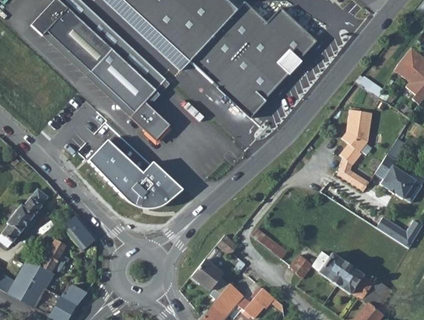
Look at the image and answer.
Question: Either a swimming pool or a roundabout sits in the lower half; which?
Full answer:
Visible in the lower half is a roundabout.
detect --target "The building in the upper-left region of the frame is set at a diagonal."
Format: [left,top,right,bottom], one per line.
[30,0,168,146]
